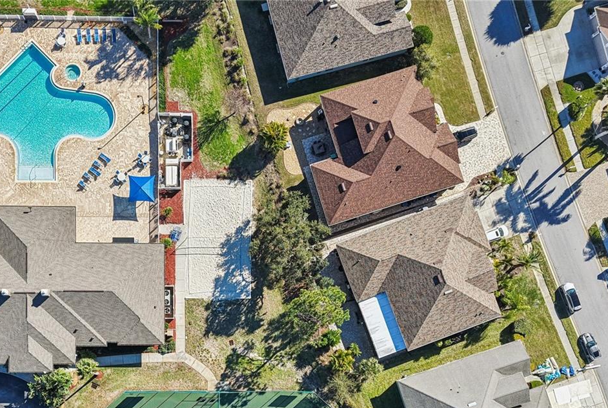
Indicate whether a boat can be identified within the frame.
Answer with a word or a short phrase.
No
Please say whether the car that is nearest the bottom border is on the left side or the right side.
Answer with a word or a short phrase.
right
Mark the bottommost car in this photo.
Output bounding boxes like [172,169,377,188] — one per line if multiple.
[576,331,601,362]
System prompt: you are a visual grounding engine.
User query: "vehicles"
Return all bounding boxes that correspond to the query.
[576,331,601,362]
[453,125,480,143]
[485,224,510,241]
[556,283,583,315]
